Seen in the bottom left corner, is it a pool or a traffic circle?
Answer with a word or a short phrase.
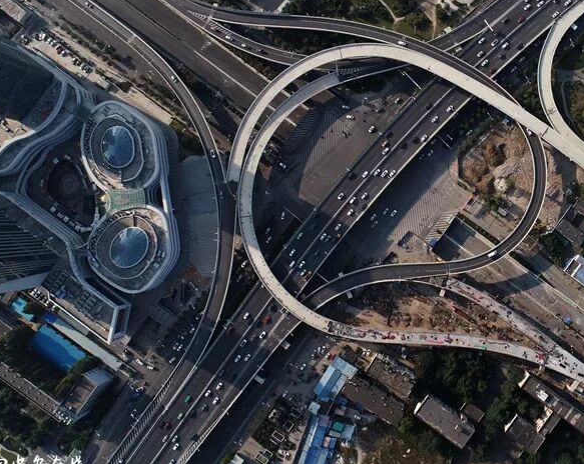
pool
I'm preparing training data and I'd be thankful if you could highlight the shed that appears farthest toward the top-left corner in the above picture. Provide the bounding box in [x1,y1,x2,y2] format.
[0,0,31,22]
